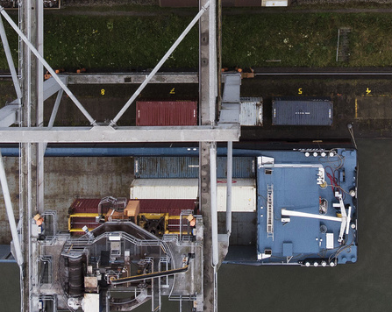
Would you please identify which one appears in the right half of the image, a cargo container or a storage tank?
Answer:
cargo container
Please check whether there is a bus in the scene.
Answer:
No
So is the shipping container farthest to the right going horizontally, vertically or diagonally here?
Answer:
horizontally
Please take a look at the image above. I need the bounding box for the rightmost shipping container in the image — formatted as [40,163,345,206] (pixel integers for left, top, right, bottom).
[272,96,333,125]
